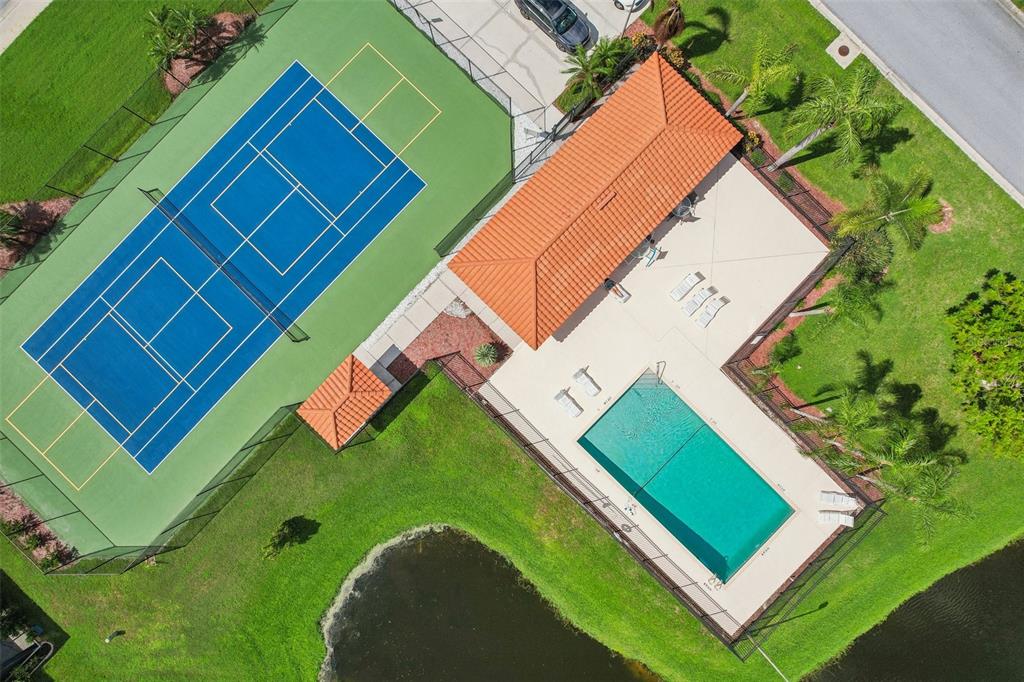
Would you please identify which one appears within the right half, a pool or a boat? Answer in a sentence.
The feature located within the right half is a pool.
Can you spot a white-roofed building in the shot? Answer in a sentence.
No, this view has no white-roofed building in it.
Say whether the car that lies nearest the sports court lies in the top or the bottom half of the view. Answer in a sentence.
The car that lies nearest the sports court sits in the top half of the picture.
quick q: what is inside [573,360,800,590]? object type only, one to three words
swimming pool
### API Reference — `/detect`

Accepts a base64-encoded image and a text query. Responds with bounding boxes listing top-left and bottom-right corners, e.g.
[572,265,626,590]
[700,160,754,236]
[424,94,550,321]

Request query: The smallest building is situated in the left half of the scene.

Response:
[295,353,392,451]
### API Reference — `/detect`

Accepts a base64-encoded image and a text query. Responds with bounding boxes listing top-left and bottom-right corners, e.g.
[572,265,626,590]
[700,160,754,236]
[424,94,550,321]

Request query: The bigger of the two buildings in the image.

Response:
[447,50,745,349]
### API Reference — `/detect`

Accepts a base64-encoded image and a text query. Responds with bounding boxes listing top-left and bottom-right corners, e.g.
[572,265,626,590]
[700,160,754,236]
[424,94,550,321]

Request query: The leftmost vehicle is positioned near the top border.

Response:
[516,0,589,55]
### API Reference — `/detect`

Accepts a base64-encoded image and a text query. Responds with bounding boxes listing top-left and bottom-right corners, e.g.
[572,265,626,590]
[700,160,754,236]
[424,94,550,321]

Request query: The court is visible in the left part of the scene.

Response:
[0,0,511,557]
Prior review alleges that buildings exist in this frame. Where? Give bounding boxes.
[295,353,392,451]
[447,50,745,349]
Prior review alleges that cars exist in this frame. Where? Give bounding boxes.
[516,0,589,55]
[615,0,643,11]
